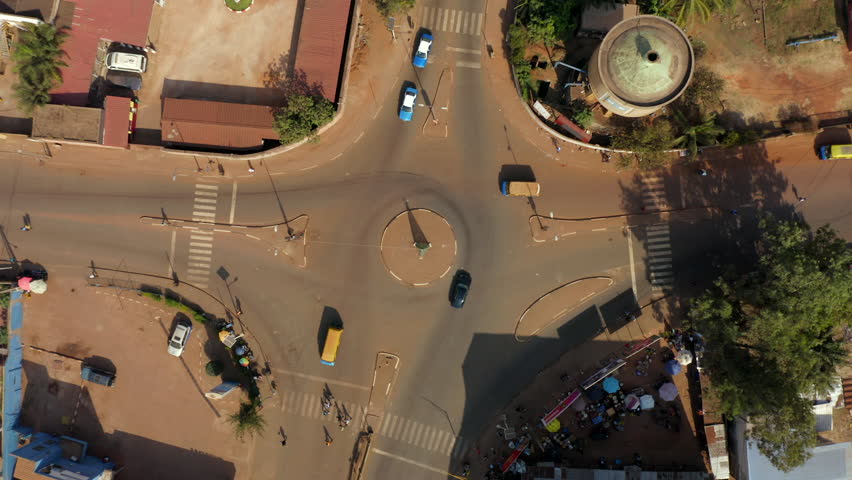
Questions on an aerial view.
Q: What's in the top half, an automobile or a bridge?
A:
automobile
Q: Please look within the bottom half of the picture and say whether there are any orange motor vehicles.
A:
Yes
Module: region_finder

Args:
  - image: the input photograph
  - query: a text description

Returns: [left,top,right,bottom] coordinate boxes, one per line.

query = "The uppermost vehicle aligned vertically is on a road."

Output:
[413,32,433,69]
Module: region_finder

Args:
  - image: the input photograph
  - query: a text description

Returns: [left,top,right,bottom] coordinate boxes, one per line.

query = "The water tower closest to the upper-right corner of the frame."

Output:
[587,15,695,118]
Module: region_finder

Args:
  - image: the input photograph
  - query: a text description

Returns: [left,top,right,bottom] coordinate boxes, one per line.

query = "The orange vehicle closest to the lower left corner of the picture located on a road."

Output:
[320,325,344,365]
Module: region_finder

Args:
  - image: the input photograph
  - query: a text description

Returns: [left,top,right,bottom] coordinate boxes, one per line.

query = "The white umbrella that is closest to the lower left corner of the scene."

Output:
[32,276,51,296]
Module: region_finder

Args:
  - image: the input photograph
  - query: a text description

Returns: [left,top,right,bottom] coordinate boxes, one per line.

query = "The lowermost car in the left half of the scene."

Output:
[82,364,116,386]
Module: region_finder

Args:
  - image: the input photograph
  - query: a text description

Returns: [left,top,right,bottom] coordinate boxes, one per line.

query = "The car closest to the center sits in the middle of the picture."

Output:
[451,272,469,305]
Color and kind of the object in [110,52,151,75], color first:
white vehicle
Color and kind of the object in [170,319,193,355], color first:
white car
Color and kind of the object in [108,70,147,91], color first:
gray car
